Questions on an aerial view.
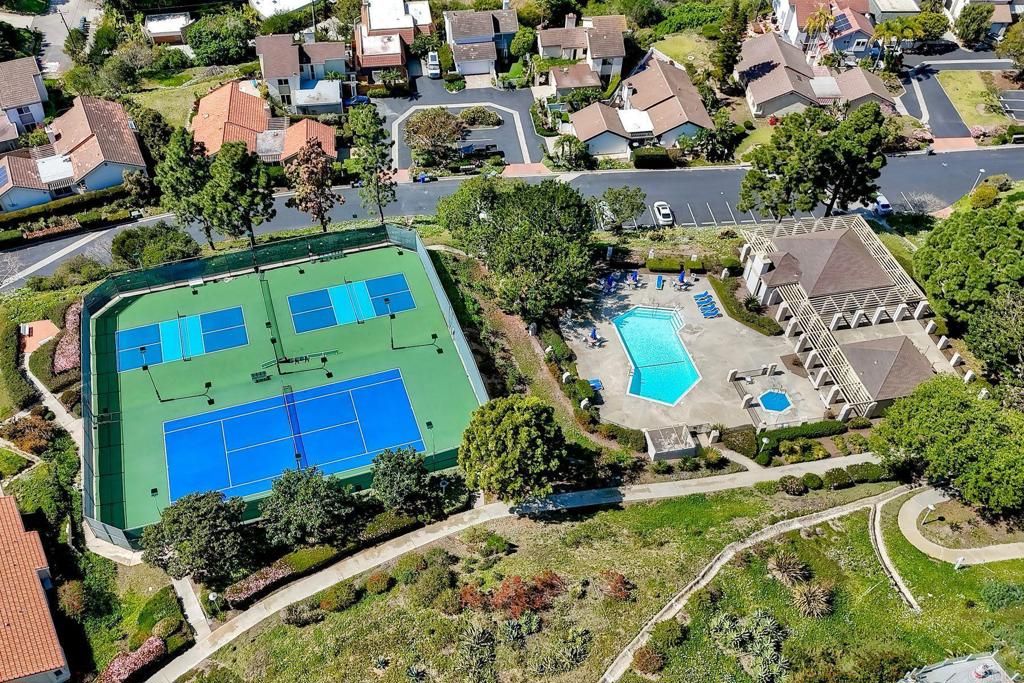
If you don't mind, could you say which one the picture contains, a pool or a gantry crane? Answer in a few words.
pool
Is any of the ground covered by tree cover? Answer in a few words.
Yes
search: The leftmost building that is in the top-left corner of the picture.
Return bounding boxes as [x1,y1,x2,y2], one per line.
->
[0,56,57,157]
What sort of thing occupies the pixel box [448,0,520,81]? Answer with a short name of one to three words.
house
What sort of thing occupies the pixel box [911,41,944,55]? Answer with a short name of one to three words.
car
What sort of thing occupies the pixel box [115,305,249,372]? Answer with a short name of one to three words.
sports court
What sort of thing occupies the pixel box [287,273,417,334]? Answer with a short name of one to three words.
sports court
